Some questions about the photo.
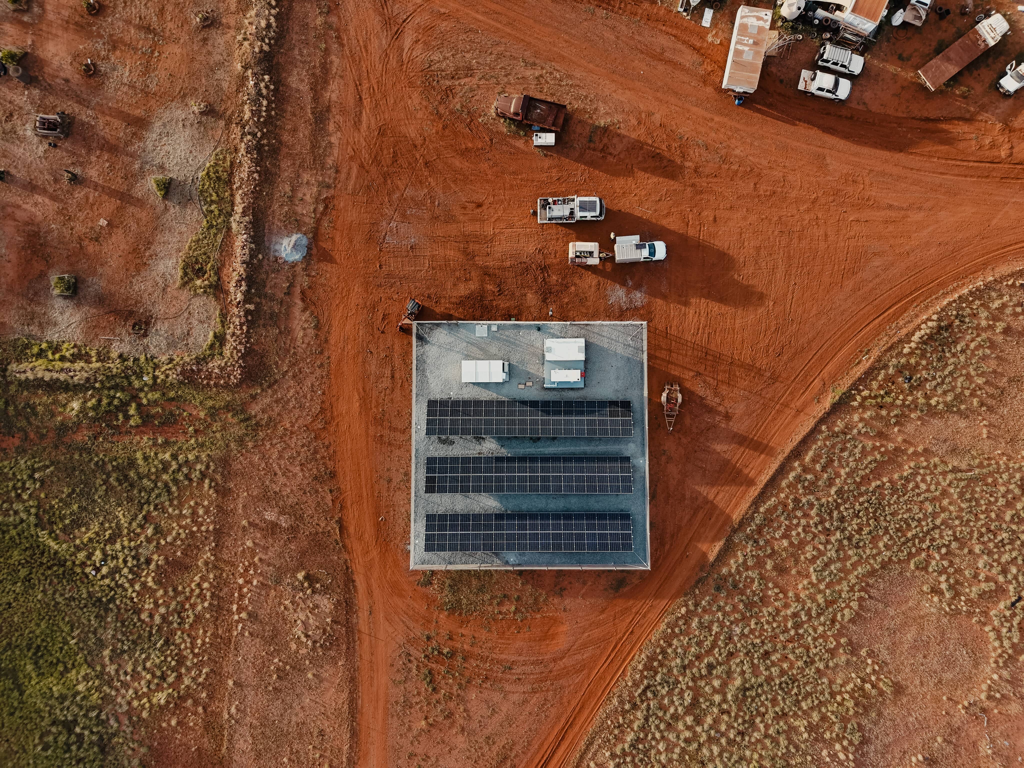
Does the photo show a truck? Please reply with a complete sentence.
Yes, a truck is visible in the scene.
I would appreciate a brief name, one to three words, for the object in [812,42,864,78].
car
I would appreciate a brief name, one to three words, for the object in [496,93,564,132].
truck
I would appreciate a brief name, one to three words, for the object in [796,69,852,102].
truck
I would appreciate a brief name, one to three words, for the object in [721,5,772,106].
camper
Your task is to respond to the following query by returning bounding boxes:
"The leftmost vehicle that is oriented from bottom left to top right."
[395,296,426,336]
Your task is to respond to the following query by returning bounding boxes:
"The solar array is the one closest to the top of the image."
[424,400,635,436]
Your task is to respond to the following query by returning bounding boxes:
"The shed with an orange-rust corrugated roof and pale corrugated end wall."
[840,0,889,36]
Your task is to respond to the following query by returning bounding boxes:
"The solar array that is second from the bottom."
[423,457,634,494]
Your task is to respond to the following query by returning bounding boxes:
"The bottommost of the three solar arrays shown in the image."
[423,513,634,552]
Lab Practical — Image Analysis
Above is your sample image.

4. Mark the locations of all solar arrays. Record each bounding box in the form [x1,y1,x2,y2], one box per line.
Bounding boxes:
[423,513,634,552]
[423,457,634,494]
[424,400,635,436]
